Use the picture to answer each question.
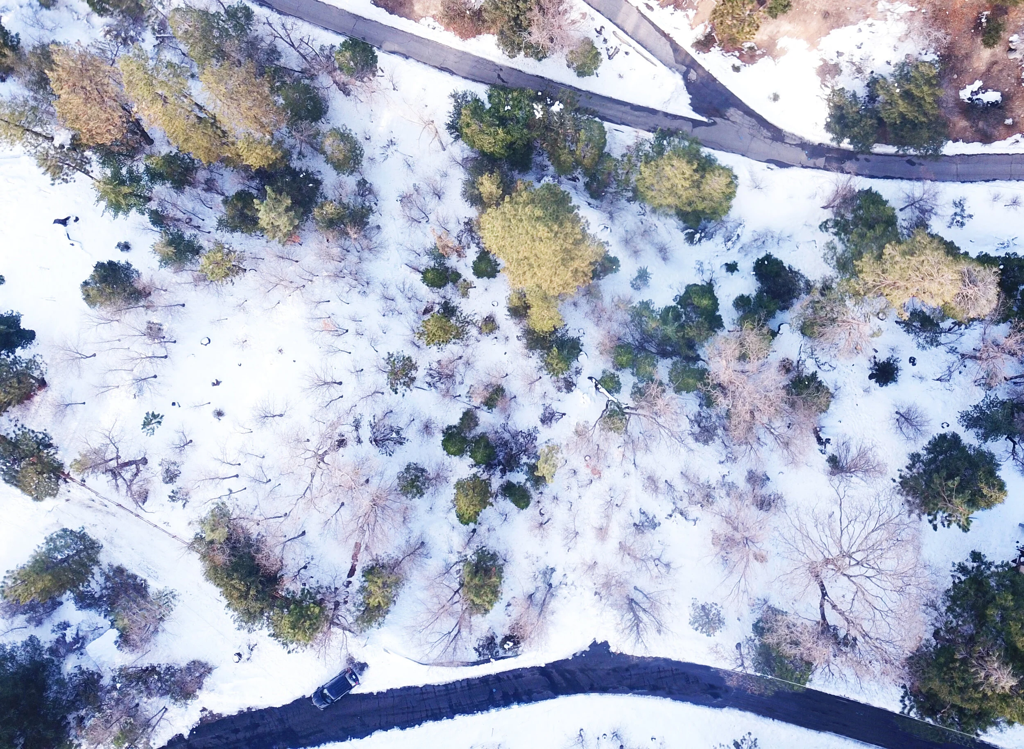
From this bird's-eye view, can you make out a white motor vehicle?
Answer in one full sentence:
No, I find no white motor vehicle anywhere in the image.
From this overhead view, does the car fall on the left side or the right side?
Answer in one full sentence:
The car is on the left side of the image.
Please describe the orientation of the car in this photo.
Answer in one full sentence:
Seen from above, the car lies on a diagonal.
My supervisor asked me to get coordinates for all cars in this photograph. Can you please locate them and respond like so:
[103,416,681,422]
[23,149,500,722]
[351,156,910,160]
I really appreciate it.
[311,667,361,709]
